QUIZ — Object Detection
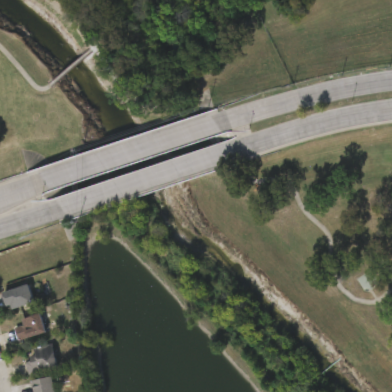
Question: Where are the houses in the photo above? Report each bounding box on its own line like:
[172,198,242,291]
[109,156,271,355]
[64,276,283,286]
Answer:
[31,379,54,392]
[1,284,31,312]
[12,314,46,342]
[24,345,56,375]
